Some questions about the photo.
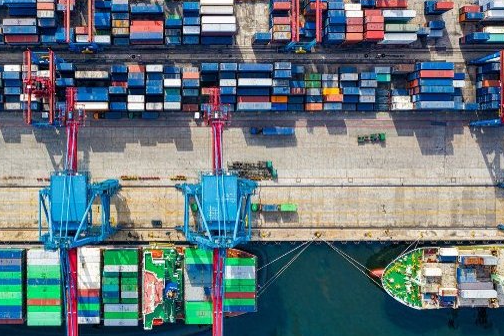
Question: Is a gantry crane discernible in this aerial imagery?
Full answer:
Yes, you can see a gantry crane in this photo.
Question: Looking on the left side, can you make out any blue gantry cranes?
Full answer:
Yes, the scene does show a blue gantry crane on the left side.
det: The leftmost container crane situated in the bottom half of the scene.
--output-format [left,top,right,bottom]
[38,88,122,336]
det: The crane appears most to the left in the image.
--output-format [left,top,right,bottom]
[24,43,68,128]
